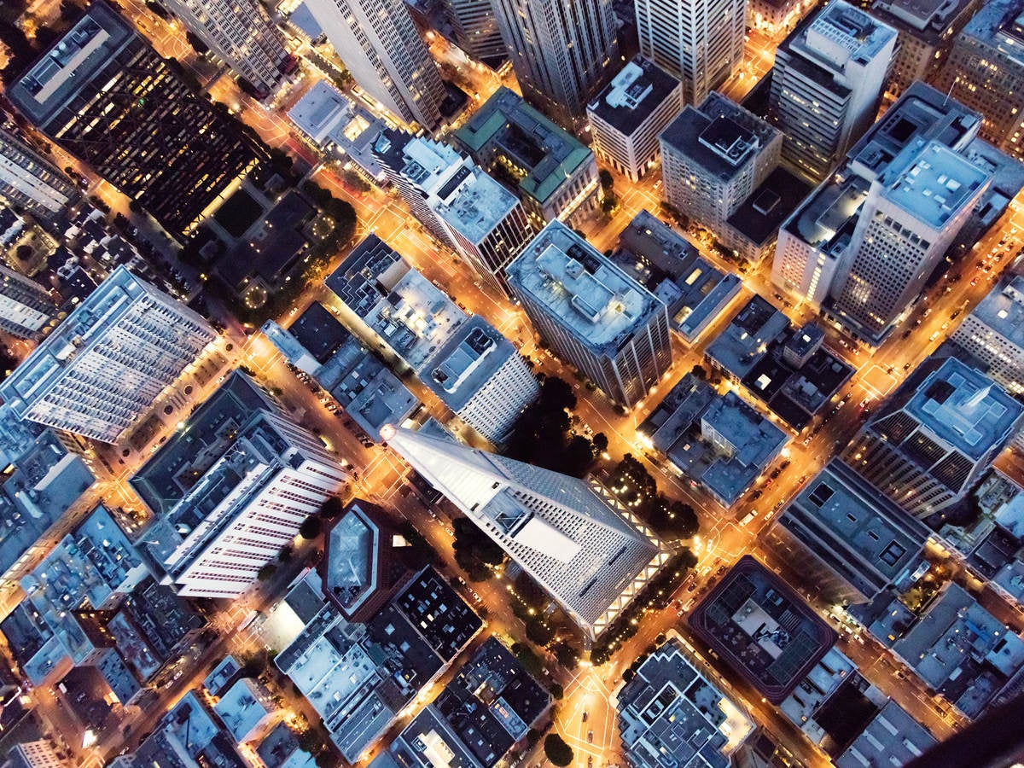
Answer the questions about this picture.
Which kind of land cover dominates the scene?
buildings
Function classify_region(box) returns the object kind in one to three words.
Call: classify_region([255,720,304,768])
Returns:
building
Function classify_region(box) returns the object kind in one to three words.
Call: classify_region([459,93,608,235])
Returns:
building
